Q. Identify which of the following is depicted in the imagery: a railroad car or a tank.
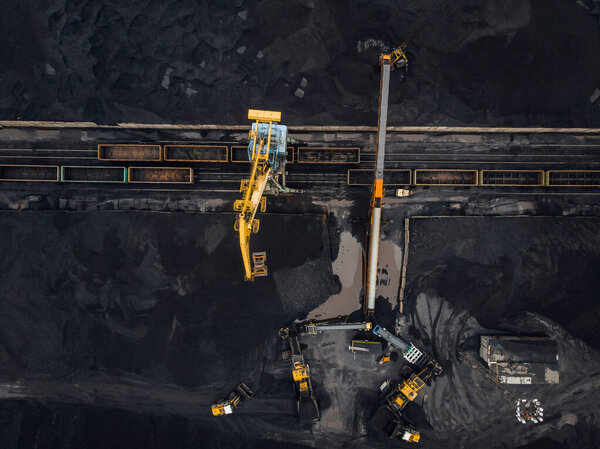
railroad car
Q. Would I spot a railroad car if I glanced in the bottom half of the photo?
No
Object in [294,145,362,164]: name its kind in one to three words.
rail car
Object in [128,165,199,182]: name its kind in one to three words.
rail car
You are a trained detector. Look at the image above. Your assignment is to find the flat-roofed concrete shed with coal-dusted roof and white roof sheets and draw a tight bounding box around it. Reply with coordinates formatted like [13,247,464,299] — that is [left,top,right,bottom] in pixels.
[480,334,561,385]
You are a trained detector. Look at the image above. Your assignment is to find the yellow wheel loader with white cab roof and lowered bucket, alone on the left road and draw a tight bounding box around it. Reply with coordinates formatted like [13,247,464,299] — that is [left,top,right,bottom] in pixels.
[212,380,259,421]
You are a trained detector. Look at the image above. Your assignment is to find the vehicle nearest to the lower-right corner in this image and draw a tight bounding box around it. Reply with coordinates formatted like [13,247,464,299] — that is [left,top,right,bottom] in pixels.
[384,420,424,443]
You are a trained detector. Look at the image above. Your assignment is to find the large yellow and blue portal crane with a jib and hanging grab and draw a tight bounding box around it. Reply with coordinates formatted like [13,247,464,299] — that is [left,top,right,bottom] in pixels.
[231,107,316,283]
